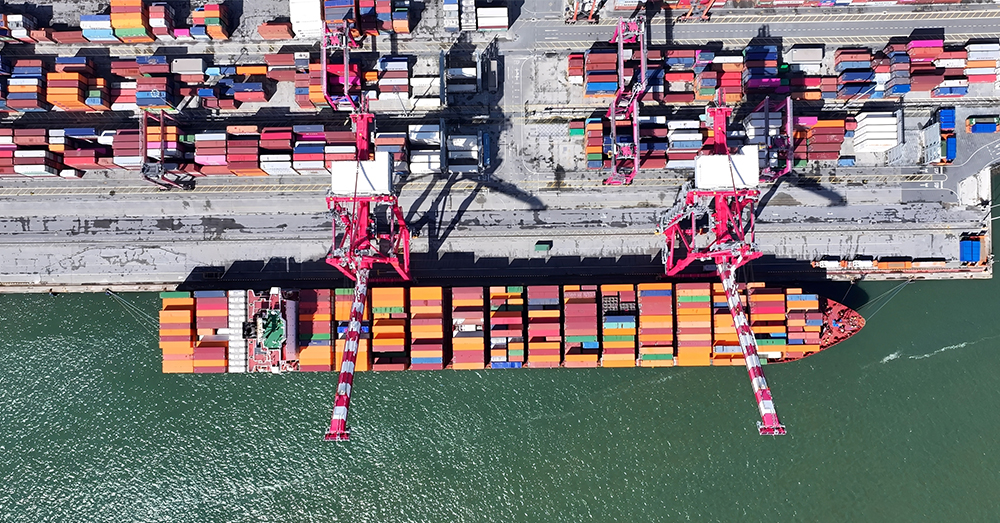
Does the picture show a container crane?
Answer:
Yes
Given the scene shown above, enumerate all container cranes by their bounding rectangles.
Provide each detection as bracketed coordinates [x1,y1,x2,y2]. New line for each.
[135,105,196,192]
[650,85,791,436]
[600,98,643,185]
[317,20,362,113]
[742,96,799,183]
[605,18,648,109]
[681,0,719,21]
[316,91,424,441]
